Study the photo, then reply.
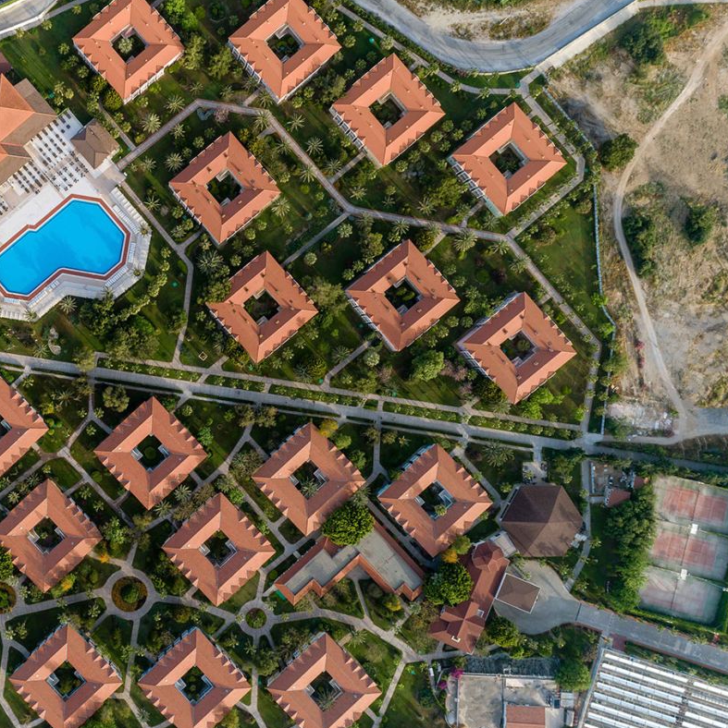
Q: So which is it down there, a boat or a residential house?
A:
residential house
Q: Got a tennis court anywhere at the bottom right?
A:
Yes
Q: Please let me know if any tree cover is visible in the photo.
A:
Yes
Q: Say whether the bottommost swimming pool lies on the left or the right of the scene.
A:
left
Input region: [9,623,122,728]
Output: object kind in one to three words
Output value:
house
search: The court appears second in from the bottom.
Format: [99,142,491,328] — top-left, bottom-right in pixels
[648,520,728,584]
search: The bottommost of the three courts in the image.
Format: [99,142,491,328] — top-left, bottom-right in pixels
[635,567,727,627]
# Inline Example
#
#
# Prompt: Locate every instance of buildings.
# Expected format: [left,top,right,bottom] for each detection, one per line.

[0,54,58,187]
[0,479,102,592]
[95,397,207,510]
[377,444,491,557]
[73,0,183,101]
[275,526,424,605]
[499,486,584,557]
[0,378,47,477]
[163,493,276,606]
[252,424,365,535]
[139,627,251,728]
[229,0,341,101]
[434,538,510,655]
[269,633,380,728]
[604,487,631,507]
[449,103,565,216]
[331,53,444,167]
[346,238,458,350]
[169,132,281,243]
[631,477,648,490]
[9,623,122,728]
[205,251,316,363]
[573,647,728,728]
[459,292,574,404]
[443,672,564,728]
[70,119,120,168]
